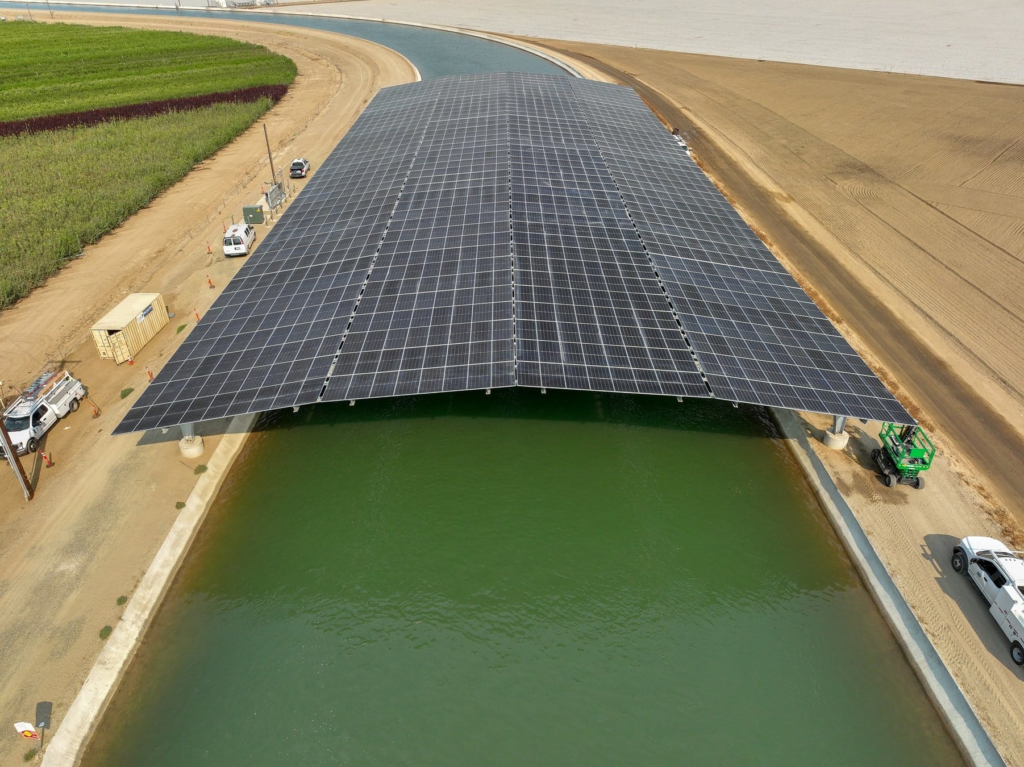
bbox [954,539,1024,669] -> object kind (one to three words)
truck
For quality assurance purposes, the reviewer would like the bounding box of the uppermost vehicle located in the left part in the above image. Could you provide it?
[289,157,312,177]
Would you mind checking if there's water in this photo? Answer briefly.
Yes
